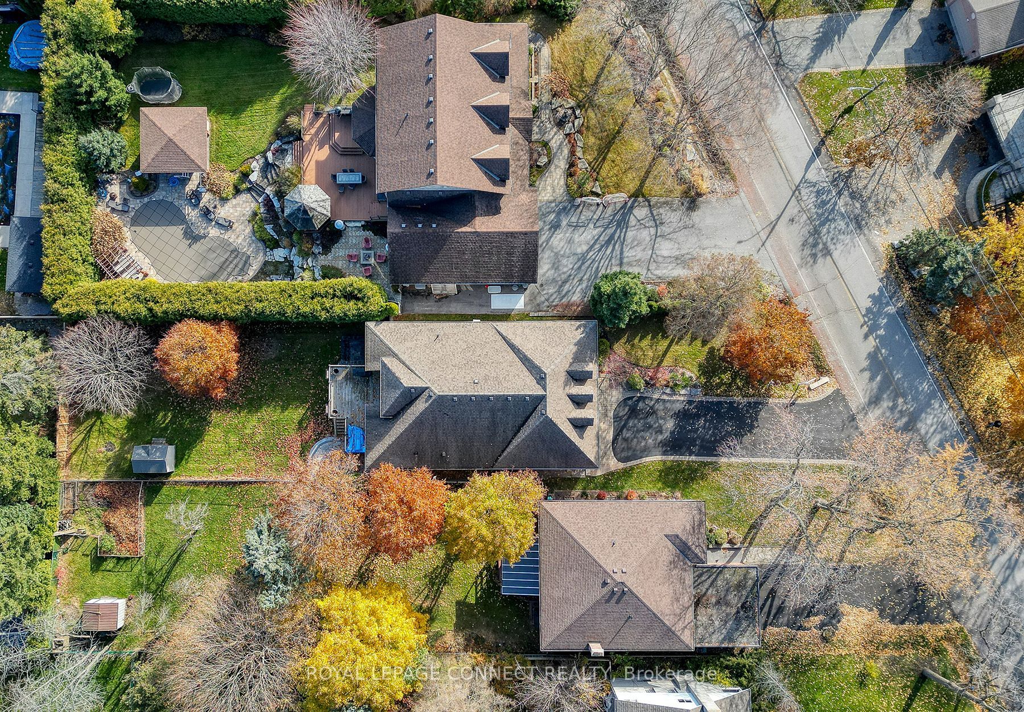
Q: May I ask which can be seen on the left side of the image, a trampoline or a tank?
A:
trampoline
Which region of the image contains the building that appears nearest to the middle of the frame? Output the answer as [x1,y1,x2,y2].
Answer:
[364,319,600,470]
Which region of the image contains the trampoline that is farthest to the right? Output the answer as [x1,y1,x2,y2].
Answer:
[129,63,182,106]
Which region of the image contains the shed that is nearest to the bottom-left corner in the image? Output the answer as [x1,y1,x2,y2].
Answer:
[82,596,130,632]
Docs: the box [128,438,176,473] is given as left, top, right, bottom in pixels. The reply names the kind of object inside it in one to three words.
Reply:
shed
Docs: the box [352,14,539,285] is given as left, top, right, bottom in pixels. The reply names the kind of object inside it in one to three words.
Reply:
house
